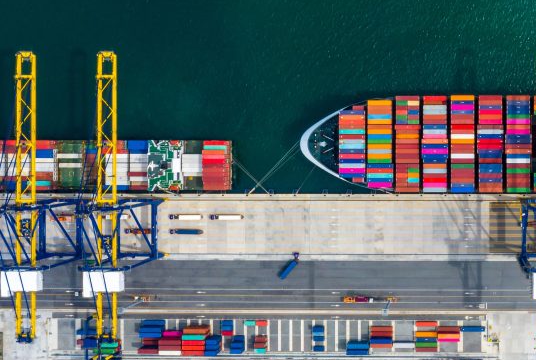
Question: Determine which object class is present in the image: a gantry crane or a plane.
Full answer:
This aerial view contains a gantry crane.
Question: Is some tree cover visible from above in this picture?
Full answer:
No, there's no tree cover in this view.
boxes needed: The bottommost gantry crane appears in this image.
[84,313,128,360]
